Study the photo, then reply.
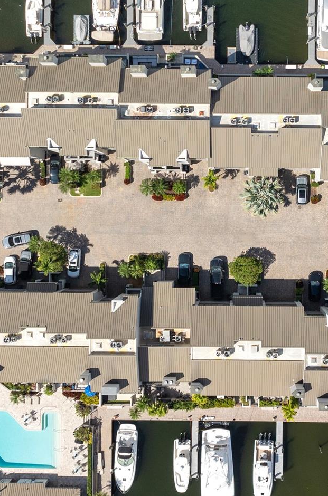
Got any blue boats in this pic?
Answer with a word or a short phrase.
No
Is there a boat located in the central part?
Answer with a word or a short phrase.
No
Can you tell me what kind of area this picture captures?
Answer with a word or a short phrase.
residential area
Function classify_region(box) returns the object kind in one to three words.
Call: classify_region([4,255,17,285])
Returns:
vehicle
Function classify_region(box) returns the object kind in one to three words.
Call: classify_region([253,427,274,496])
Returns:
boat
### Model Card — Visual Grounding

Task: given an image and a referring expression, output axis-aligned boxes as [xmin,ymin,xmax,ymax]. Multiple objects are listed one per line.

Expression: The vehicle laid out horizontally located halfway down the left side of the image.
[2,232,34,247]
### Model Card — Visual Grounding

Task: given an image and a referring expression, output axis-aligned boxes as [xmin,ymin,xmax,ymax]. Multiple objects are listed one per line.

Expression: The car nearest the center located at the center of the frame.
[176,252,190,284]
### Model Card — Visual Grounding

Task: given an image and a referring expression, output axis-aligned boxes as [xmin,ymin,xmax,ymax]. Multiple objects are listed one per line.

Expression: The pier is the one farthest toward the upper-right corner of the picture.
[304,0,320,64]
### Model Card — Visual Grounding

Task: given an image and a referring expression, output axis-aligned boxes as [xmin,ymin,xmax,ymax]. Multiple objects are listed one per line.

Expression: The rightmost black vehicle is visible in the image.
[309,271,323,301]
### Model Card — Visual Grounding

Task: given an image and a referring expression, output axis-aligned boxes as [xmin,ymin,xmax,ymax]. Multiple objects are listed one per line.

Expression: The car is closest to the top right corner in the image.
[295,174,309,205]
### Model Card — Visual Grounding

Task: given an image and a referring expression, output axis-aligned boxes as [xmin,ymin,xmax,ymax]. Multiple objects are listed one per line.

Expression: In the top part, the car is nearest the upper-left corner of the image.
[49,154,62,184]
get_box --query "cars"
[209,255,223,288]
[295,174,309,205]
[18,249,33,279]
[2,232,34,247]
[176,252,190,284]
[49,154,62,184]
[66,248,81,278]
[4,255,17,285]
[309,271,323,301]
